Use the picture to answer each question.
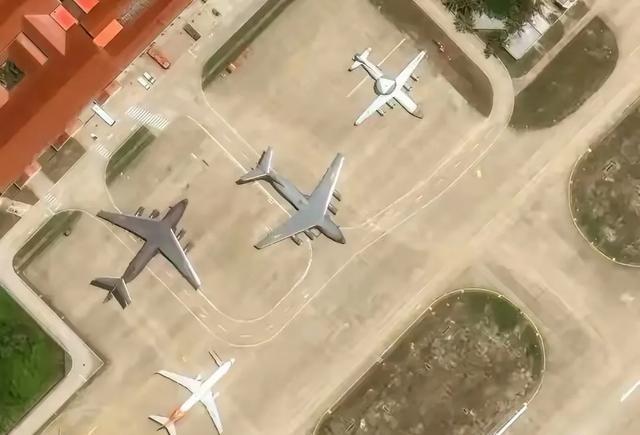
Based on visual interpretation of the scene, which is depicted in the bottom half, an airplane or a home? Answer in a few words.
airplane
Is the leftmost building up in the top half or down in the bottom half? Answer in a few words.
top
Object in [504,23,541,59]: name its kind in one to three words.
house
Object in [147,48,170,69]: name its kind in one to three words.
vehicle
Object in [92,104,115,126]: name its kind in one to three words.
bus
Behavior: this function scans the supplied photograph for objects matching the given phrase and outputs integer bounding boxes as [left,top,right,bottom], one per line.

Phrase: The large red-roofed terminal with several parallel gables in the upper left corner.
[0,0,194,195]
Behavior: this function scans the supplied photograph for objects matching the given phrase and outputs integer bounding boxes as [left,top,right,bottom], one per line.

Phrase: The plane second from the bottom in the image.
[92,200,198,308]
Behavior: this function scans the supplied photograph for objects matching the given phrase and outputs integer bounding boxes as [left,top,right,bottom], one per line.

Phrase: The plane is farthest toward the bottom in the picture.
[149,358,235,435]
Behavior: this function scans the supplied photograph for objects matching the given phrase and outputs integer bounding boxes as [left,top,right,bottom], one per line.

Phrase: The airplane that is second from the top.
[239,145,345,250]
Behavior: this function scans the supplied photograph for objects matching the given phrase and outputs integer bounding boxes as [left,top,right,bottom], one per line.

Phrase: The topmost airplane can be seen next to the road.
[349,47,426,126]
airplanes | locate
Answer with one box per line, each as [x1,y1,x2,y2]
[149,358,235,435]
[349,47,426,126]
[239,145,345,250]
[92,200,198,308]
